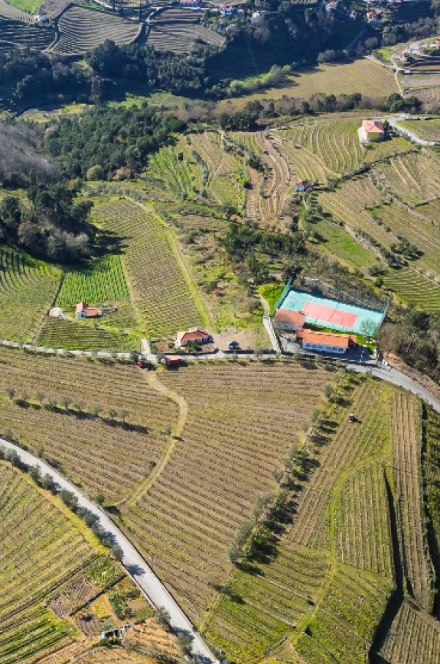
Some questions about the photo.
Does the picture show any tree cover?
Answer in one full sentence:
Yes, some tree cover is visible.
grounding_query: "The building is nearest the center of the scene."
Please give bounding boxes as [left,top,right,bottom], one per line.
[176,330,214,351]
